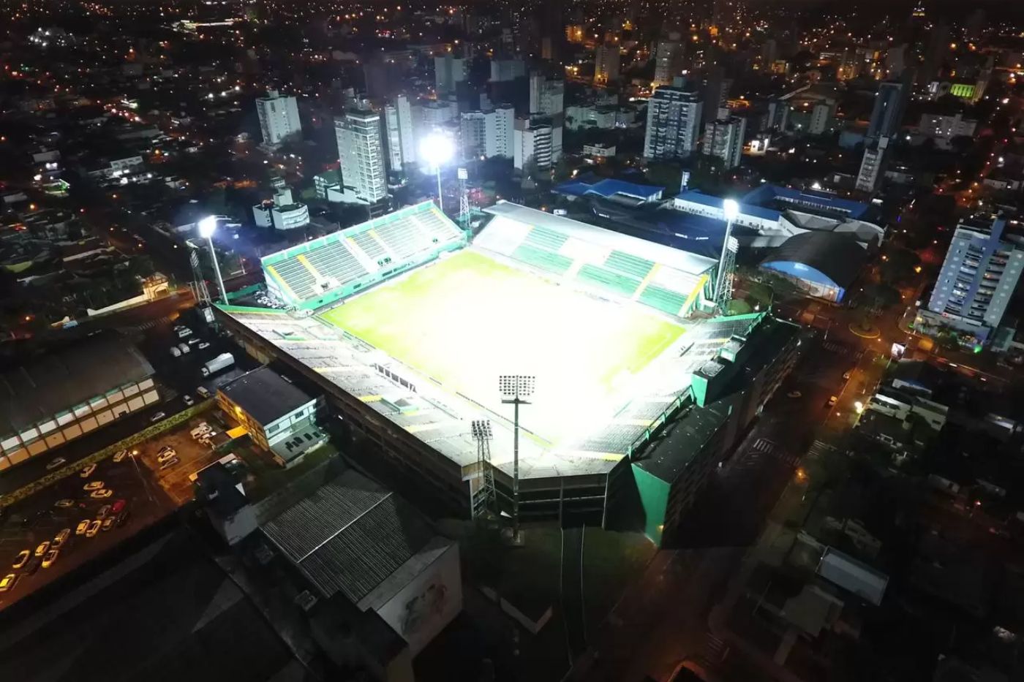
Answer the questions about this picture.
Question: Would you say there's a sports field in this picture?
Yes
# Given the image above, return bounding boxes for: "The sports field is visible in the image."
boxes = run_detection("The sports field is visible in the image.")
[320,249,690,442]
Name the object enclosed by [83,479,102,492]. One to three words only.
vehicle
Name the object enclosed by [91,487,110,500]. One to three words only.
vehicle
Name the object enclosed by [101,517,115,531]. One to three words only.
car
